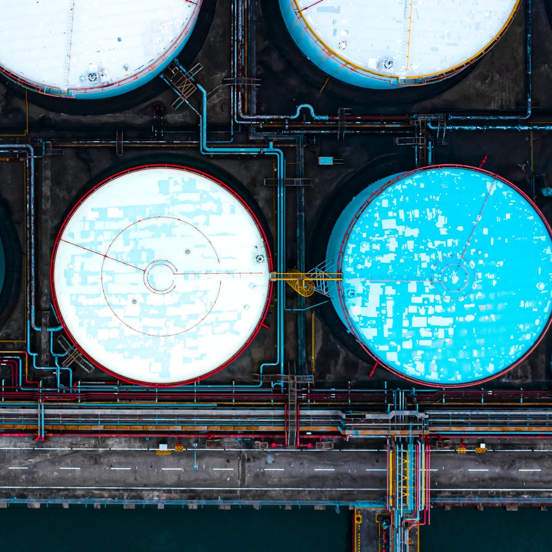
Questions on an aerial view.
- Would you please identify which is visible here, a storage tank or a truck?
storage tank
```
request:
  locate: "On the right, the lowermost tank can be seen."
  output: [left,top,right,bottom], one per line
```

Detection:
[305,151,552,390]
